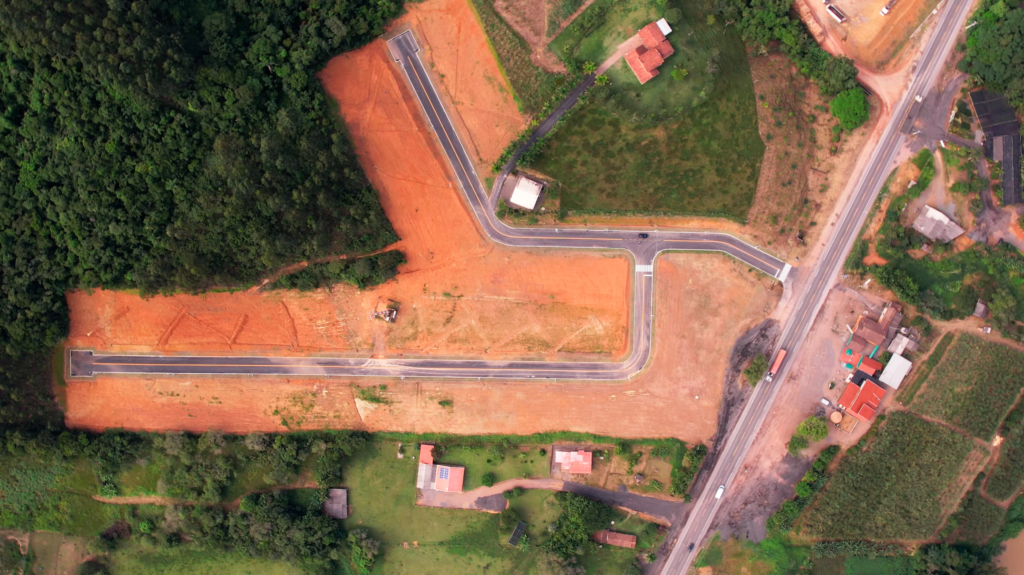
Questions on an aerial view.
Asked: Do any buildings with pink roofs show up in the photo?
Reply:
Yes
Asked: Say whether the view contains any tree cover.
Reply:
Yes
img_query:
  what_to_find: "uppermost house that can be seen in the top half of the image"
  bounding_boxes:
[625,18,675,85]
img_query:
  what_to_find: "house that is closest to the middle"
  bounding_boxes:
[510,176,543,209]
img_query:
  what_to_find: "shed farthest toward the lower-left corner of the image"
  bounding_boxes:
[322,488,348,519]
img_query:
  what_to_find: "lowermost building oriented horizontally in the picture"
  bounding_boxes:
[592,529,636,549]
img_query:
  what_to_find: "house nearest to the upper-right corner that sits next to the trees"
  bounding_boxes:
[967,89,1019,140]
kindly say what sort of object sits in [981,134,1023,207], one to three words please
house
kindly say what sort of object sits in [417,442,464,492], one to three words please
house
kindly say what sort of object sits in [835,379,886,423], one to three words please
building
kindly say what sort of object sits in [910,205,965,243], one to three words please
building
